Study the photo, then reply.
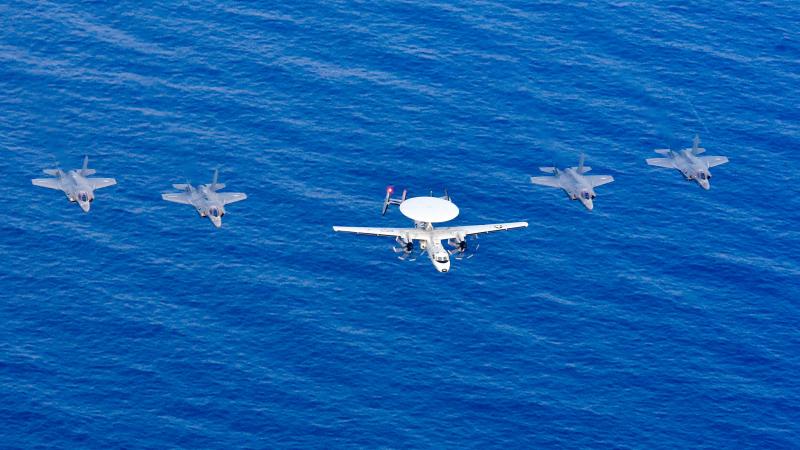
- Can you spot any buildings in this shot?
No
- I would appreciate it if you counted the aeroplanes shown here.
5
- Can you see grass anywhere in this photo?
No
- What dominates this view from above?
water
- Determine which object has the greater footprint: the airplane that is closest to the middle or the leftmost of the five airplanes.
the airplane that is closest to the middle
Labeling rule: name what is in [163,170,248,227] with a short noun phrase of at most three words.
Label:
airplane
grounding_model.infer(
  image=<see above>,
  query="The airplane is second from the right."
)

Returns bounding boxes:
[532,154,615,209]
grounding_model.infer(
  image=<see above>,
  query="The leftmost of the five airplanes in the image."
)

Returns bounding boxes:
[33,156,116,211]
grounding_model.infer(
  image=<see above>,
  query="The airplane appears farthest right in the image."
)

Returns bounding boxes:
[647,135,730,189]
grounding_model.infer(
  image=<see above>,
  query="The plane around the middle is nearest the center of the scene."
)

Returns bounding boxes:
[334,187,529,273]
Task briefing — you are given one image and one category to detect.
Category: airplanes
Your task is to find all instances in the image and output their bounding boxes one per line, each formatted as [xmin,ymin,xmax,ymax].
[532,154,615,209]
[163,170,248,227]
[647,135,730,189]
[334,187,529,273]
[33,156,116,211]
